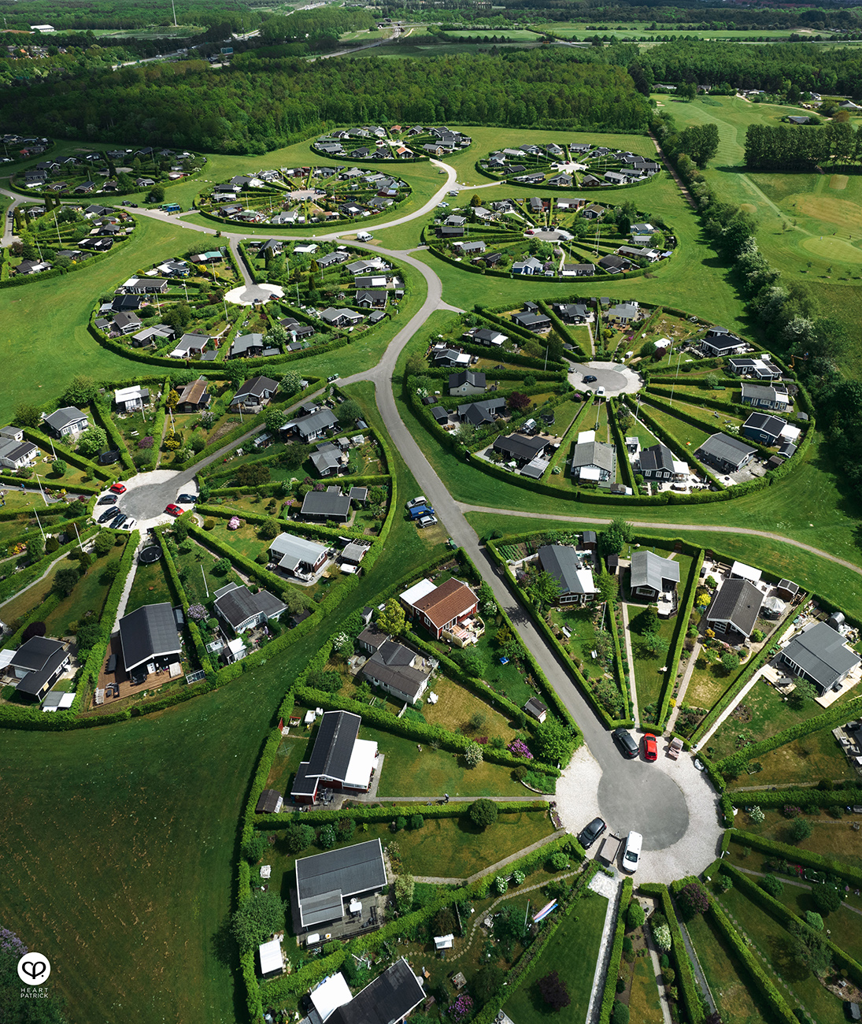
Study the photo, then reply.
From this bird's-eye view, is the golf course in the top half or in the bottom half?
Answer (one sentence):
Seen from above, the golf course lies in the top half of the view.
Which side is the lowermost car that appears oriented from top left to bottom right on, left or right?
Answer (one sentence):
The lowermost car that appears oriented from top left to bottom right appears in the right half of the scene.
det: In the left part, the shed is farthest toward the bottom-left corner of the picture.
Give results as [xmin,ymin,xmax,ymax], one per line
[259,939,283,977]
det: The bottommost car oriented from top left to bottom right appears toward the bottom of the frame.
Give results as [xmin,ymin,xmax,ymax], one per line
[615,729,641,759]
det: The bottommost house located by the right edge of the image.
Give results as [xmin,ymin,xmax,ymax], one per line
[780,631,860,688]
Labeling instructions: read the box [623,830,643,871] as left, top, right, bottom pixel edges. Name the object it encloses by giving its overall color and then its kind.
white vehicle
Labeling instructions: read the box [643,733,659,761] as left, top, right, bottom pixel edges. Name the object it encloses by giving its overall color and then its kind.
red car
